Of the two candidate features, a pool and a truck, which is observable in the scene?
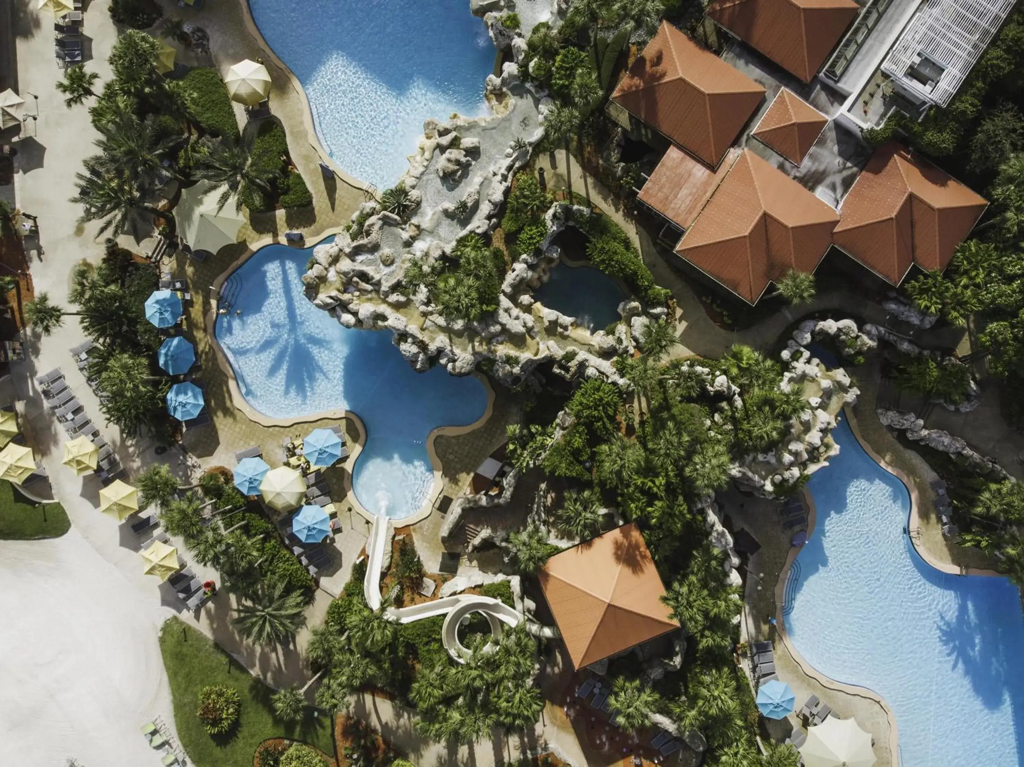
pool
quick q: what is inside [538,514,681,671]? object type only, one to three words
building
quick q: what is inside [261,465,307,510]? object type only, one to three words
umbrella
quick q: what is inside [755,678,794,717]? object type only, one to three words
umbrella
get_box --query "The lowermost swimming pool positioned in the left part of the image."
[215,244,489,519]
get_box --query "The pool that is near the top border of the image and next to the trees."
[245,0,490,192]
